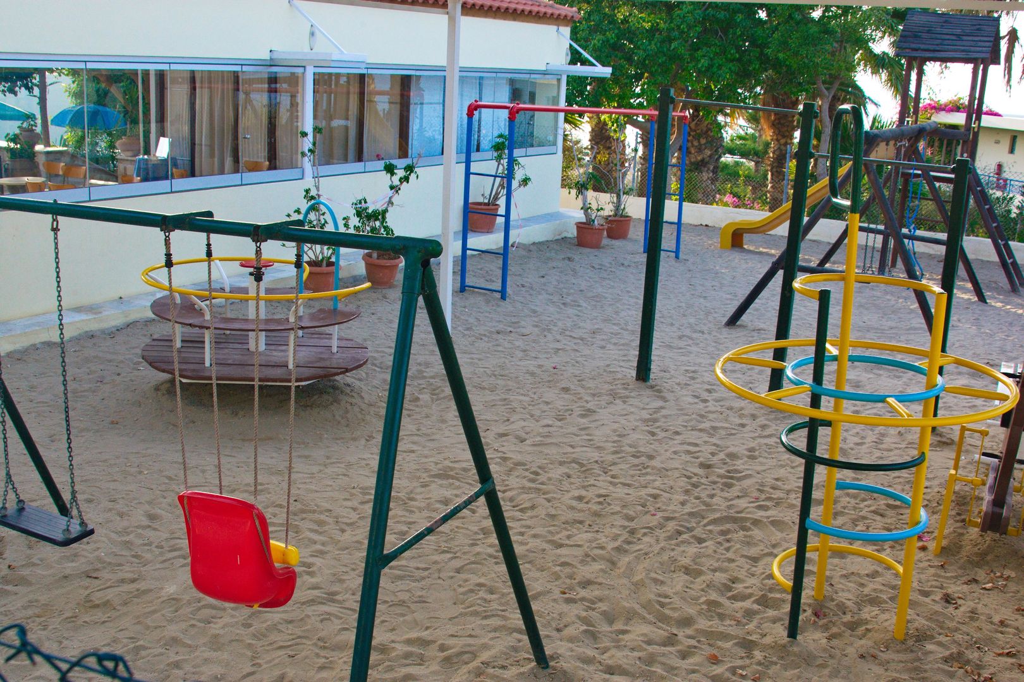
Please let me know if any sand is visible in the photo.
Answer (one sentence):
Yes, there's sand in this view.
